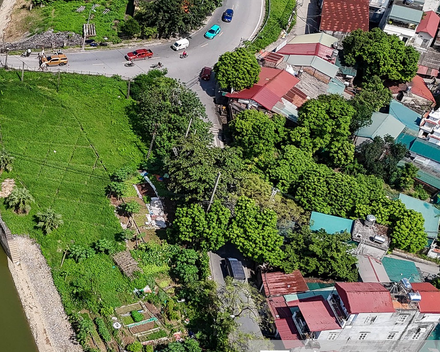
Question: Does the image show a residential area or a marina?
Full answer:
This image shows a residential area.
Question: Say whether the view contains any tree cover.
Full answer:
Yes, there is tree cover in the image.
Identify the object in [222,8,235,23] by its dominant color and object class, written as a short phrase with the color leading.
blue vehicle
